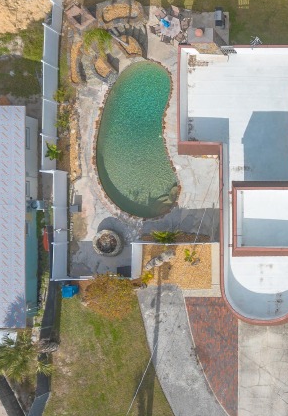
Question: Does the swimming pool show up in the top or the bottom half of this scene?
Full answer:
The swimming pool sits in the top half of the picture.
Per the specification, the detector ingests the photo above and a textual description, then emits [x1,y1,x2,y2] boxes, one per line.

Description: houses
[179,25,288,322]
[0,106,37,328]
